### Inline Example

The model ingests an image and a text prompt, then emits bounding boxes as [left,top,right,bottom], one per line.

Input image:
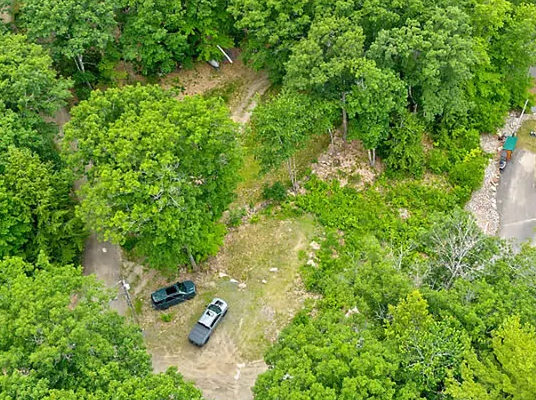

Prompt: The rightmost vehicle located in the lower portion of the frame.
[187,298,229,349]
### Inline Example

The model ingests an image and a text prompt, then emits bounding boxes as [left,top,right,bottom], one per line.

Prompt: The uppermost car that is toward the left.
[150,281,197,309]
